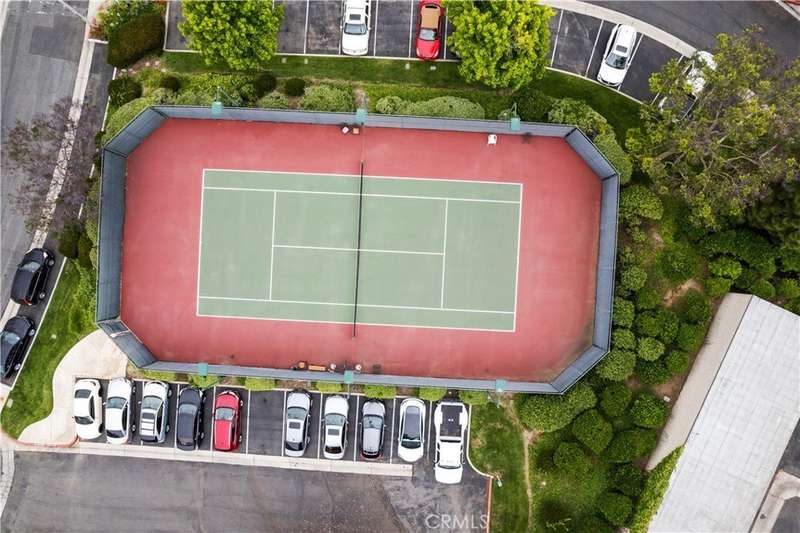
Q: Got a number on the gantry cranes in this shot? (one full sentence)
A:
No gantry cranes are visible.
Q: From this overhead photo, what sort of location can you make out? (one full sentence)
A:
It's a sports ground.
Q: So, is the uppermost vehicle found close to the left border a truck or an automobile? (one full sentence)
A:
In the photo, the uppermost vehicle found close to the left border shows up as an automobile.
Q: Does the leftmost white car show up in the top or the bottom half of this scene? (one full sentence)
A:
The bottom half of the photo is where the leftmost white car is.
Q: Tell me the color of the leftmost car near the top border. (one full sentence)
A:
The color of the leftmost car near the top border is white.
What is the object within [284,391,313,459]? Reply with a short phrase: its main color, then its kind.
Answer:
white car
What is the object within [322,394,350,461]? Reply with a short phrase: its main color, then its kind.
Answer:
white car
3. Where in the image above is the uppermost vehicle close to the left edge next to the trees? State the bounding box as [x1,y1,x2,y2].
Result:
[6,245,58,310]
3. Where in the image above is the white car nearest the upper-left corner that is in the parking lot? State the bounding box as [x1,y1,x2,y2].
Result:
[340,0,370,56]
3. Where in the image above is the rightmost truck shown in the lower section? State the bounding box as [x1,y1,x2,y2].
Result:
[436,402,467,486]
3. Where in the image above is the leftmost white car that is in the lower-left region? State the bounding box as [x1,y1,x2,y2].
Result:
[70,379,105,439]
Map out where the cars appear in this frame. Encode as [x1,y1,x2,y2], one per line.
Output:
[361,399,388,461]
[102,377,136,445]
[416,0,443,59]
[598,20,644,89]
[6,245,58,310]
[322,394,350,461]
[398,398,426,463]
[212,390,243,453]
[340,0,370,56]
[173,387,206,453]
[137,380,171,445]
[284,391,313,459]
[0,314,35,382]
[70,379,105,439]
